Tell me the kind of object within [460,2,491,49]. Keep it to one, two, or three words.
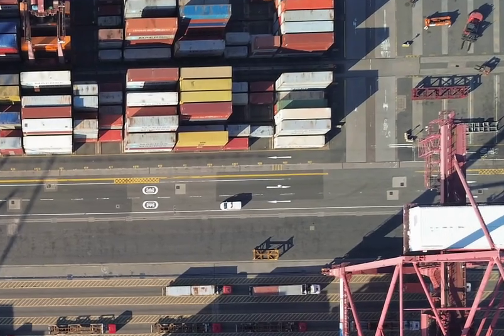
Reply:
work vehicle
